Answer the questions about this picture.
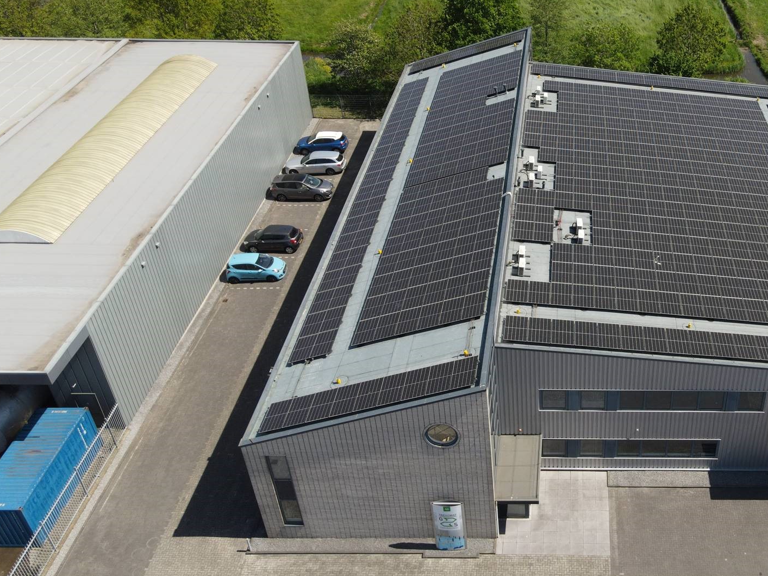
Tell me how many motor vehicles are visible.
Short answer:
5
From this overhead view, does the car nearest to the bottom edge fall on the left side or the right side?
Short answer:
left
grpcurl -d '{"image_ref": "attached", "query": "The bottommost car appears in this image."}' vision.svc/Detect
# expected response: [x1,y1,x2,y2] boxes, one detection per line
[224,251,290,282]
